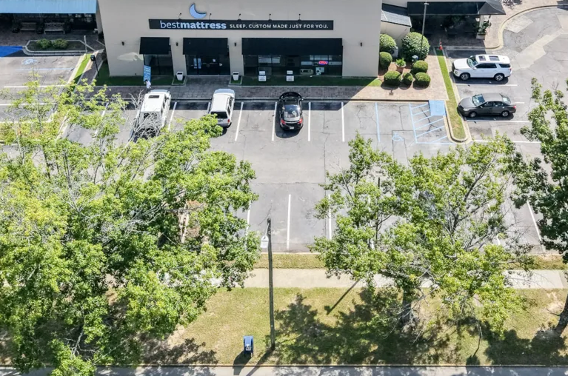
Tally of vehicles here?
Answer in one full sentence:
The number of vehicles here is 5.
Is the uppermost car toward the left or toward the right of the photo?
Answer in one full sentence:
The uppermost car sits on the right side.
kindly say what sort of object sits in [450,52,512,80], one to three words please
car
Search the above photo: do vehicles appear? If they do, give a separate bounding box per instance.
[275,94,303,133]
[135,89,170,131]
[456,89,519,115]
[450,52,512,80]
[206,90,234,128]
